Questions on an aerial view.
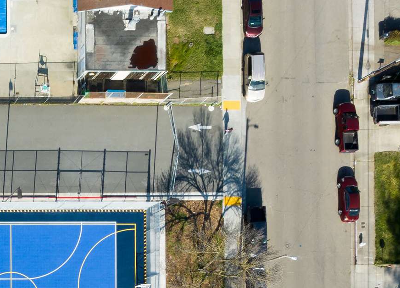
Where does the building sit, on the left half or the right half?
left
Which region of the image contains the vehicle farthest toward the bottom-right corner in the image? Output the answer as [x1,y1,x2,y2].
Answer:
[336,177,361,223]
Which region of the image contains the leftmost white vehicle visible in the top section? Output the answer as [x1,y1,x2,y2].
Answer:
[243,55,268,102]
